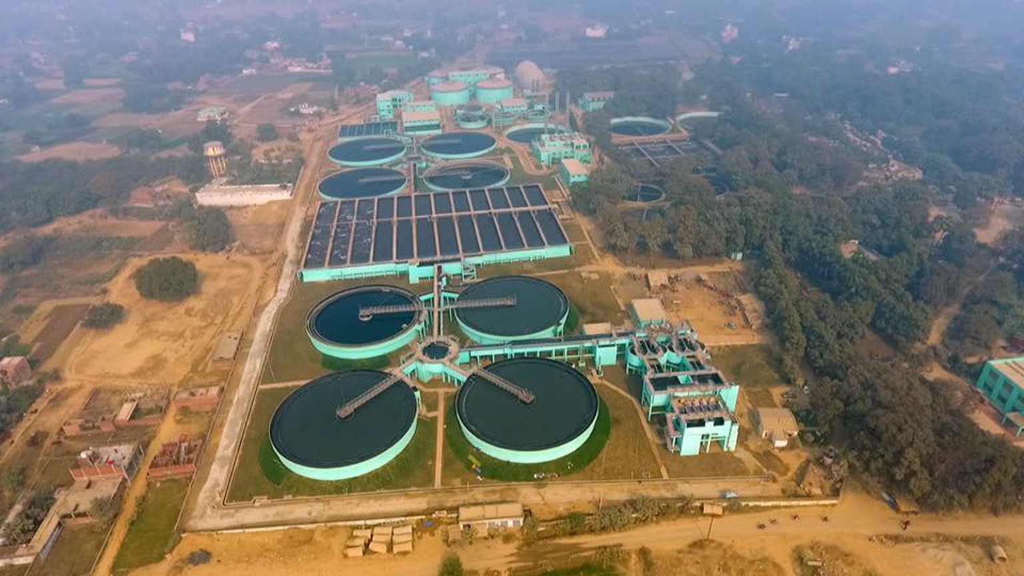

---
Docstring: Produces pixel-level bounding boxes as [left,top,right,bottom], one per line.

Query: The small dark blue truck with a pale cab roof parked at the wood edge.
[880,490,905,511]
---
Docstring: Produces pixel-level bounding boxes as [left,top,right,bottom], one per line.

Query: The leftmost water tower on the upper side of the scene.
[203,143,231,181]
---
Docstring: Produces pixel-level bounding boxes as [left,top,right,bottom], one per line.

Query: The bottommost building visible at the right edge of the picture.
[974,359,1024,430]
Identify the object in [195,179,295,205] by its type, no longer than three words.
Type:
building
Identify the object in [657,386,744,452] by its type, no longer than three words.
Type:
house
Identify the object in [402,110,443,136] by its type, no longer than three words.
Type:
building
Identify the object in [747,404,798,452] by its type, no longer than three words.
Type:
house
